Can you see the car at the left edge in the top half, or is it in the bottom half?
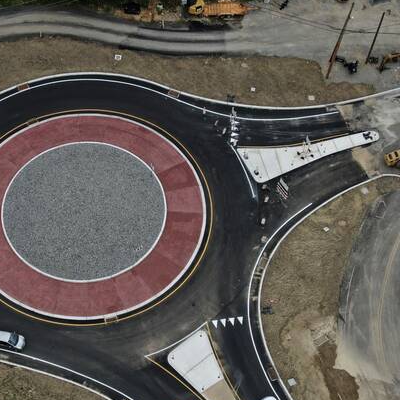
bottom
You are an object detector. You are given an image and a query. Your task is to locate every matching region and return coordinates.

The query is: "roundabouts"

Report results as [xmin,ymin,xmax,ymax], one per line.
[0,79,339,400]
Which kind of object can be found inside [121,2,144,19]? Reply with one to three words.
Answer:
car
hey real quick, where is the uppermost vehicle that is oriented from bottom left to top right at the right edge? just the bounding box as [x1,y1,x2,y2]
[376,50,400,71]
